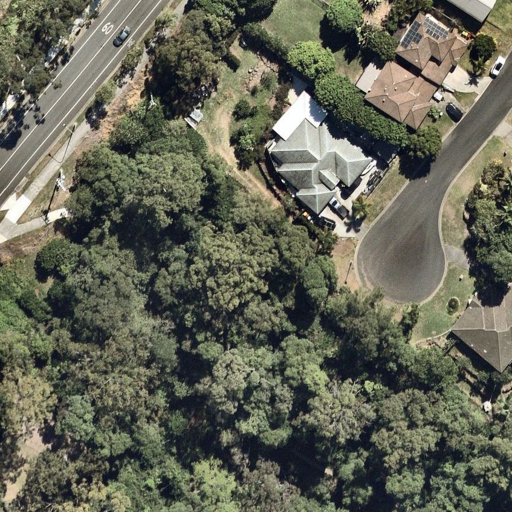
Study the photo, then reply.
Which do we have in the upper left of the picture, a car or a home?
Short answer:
car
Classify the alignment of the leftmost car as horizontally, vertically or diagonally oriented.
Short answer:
diagonally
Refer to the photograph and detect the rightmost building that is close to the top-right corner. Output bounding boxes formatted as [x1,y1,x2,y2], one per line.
[445,0,497,24]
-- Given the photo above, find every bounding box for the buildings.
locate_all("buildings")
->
[445,0,497,24]
[451,287,512,373]
[356,62,438,130]
[395,14,468,86]
[271,93,373,215]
